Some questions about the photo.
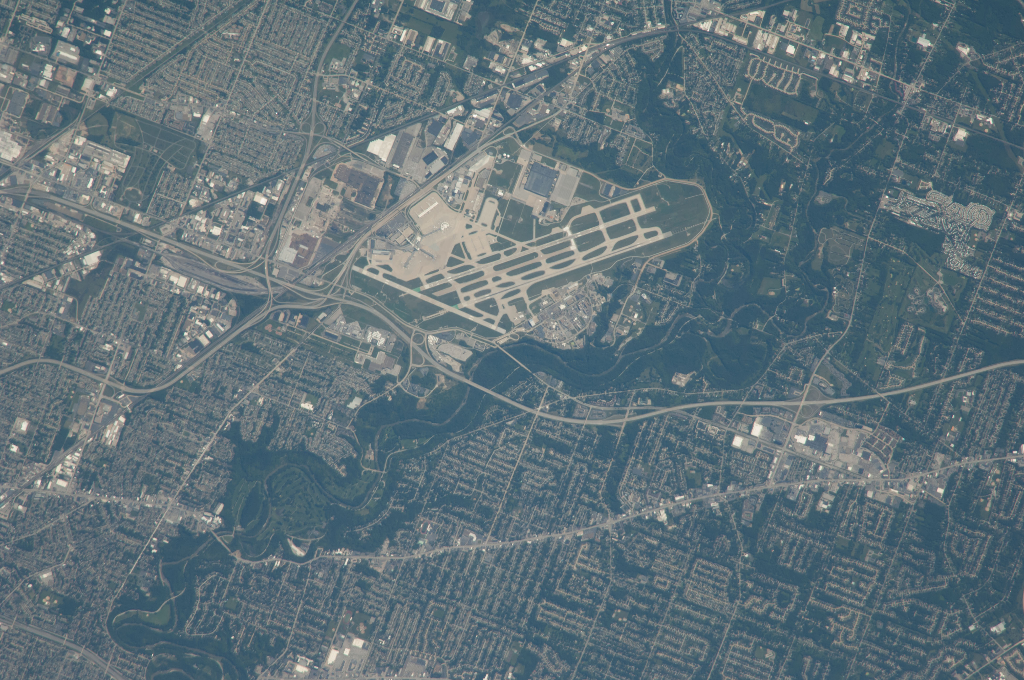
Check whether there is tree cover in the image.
Yes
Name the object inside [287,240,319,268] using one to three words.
building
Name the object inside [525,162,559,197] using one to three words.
building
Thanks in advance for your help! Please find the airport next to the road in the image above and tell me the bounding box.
[336,150,731,353]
